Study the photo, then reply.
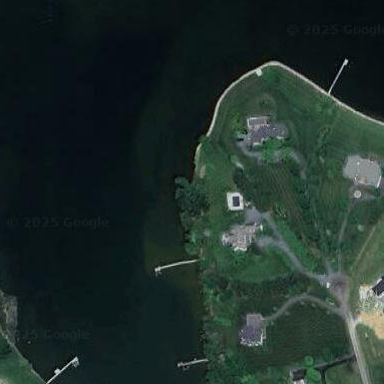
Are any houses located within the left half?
No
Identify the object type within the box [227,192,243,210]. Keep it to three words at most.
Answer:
swimming pool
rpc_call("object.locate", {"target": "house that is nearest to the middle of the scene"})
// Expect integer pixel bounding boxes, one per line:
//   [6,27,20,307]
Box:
[222,222,258,252]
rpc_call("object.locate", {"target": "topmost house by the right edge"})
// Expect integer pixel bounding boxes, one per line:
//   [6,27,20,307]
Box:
[340,155,384,187]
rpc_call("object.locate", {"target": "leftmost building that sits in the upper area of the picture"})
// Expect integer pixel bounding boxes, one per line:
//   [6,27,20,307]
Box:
[247,115,287,146]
